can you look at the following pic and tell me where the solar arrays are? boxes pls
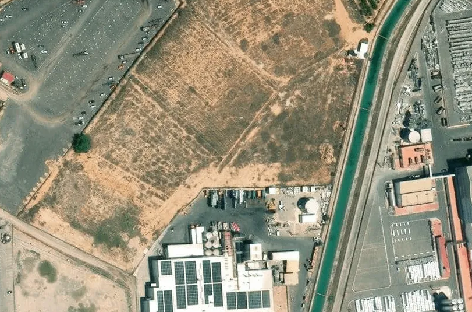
[237,292,247,310]
[157,290,164,312]
[204,284,213,304]
[214,284,223,306]
[187,285,198,305]
[263,290,271,307]
[176,286,187,309]
[160,261,172,276]
[185,261,197,284]
[202,261,212,282]
[164,290,173,312]
[226,293,237,310]
[174,262,184,285]
[212,263,222,282]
